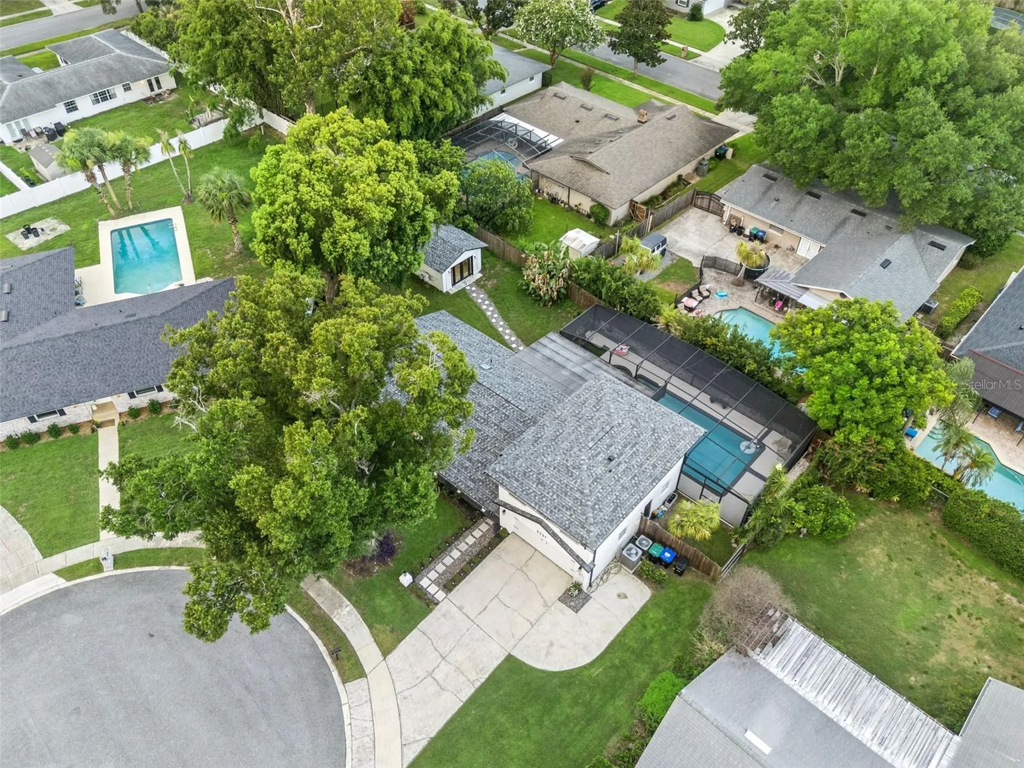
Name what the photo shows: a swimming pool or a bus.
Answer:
swimming pool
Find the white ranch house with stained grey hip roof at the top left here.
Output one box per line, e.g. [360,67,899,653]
[0,36,169,148]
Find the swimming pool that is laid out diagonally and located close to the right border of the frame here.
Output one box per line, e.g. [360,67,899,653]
[924,422,1024,506]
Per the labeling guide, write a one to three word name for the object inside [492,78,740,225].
house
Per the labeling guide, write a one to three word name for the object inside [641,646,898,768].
house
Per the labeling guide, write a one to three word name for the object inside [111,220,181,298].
swimming pool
